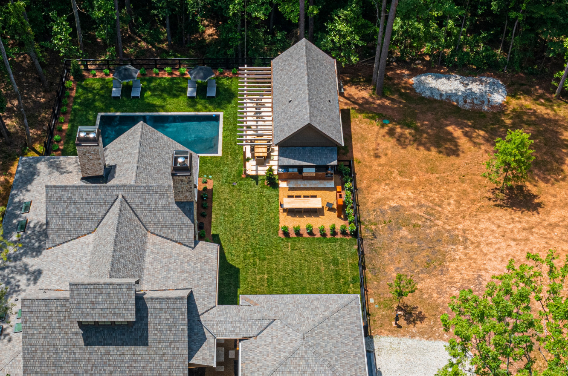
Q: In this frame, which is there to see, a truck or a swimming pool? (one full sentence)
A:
The one in the frame is a swimming pool.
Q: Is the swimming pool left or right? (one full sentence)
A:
The swimming pool is on the left side of the image.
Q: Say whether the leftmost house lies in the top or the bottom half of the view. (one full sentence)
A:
You can find the leftmost house in the bottom half.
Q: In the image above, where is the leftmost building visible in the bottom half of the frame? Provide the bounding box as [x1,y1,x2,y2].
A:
[0,119,221,376]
